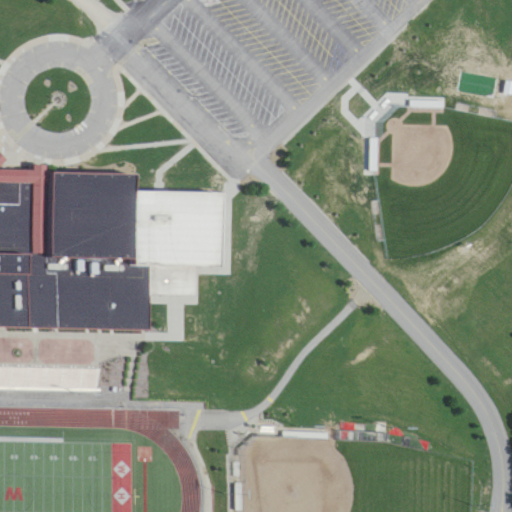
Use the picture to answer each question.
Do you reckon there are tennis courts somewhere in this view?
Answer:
No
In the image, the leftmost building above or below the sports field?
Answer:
above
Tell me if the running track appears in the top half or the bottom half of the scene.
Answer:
bottom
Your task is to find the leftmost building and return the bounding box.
[0,165,151,329]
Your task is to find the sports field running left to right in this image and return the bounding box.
[0,428,182,512]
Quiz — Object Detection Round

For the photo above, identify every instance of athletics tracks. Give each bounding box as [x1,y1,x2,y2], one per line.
[0,409,201,512]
